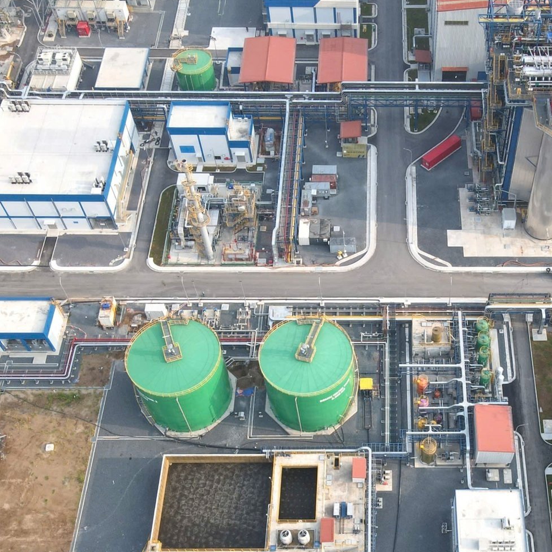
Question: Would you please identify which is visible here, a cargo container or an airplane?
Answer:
cargo container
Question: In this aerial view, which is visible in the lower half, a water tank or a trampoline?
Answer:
water tank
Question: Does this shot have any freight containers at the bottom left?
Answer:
No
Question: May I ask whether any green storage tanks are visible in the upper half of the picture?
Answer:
Yes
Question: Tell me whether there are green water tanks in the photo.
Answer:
Yes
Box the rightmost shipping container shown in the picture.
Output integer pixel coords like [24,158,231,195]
[421,134,462,171]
